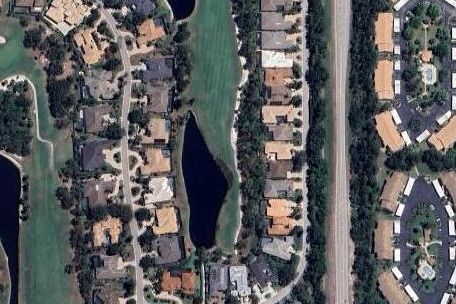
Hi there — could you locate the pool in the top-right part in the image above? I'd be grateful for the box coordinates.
[422,65,435,84]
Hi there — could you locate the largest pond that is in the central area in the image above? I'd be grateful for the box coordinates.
[182,109,228,247]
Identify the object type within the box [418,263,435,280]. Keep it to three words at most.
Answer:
swimming pool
